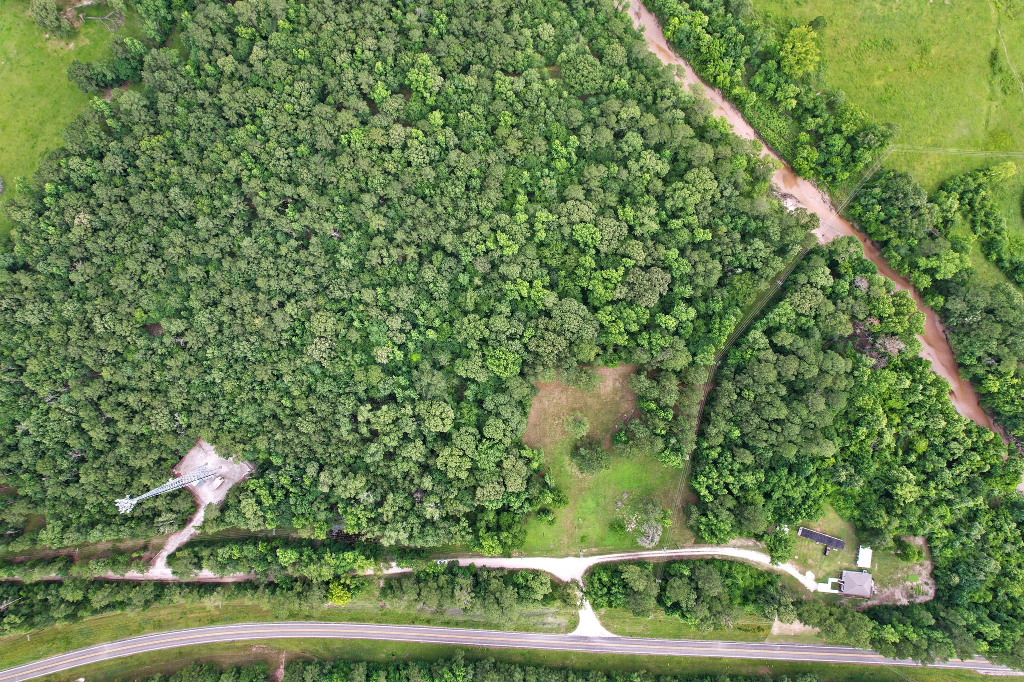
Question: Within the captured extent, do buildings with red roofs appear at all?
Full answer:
No, the frame has no building with a red roof in it.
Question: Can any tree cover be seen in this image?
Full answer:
Yes, tree cover shows up in the scene.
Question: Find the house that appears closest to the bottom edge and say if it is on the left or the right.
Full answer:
The house that appears closest to the bottom edge sits on the right side.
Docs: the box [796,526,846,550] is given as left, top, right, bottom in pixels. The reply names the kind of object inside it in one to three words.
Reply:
house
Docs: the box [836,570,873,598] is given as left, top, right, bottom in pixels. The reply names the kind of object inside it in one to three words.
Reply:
house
